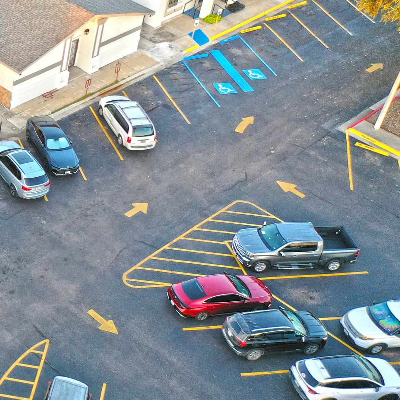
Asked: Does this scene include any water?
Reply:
No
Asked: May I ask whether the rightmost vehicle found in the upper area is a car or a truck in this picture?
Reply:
car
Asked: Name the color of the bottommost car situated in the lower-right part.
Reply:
white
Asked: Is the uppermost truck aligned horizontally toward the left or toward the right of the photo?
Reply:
right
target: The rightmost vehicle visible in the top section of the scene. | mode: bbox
[94,96,156,153]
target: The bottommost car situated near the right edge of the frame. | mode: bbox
[290,352,400,400]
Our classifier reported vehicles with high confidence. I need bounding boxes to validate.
[169,272,284,320]
[227,221,368,274]
[290,352,400,400]
[38,375,89,400]
[23,115,79,178]
[94,96,156,153]
[344,300,400,356]
[225,308,342,363]
[0,137,52,204]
